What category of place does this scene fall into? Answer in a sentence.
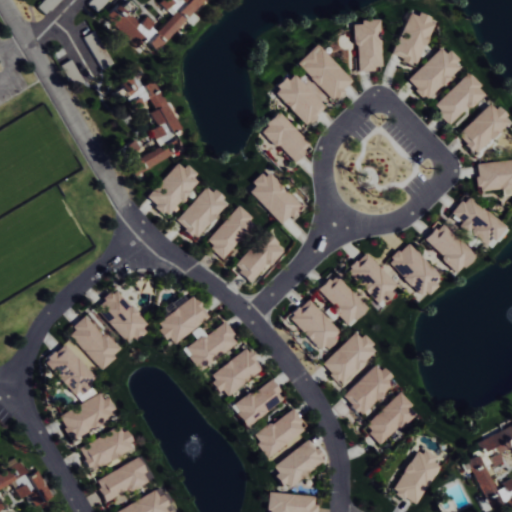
It's a residential area.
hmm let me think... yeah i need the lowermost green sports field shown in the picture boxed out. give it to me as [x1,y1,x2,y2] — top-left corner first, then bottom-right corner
[0,186,94,303]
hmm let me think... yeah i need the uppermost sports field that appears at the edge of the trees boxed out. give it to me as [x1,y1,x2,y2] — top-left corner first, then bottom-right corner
[0,105,82,216]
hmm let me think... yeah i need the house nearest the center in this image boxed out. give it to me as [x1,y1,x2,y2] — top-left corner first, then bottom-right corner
[235,235,288,287]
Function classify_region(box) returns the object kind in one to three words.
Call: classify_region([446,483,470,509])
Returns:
swimming pool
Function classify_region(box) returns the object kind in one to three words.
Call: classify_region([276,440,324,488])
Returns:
house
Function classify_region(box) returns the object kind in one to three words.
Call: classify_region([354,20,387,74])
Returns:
house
